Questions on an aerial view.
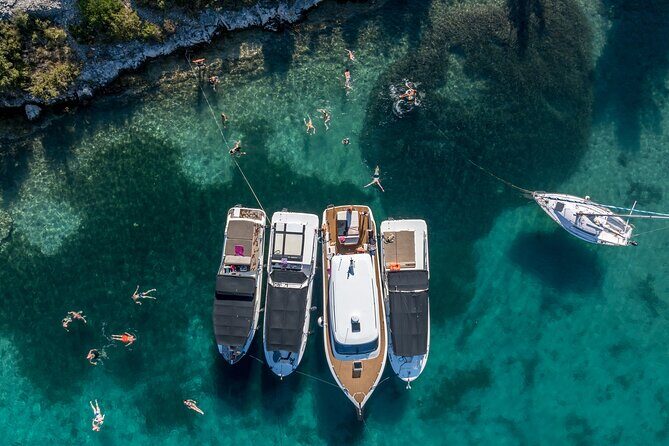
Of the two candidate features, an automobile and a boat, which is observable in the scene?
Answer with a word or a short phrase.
boat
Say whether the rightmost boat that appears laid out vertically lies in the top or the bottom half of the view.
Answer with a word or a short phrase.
bottom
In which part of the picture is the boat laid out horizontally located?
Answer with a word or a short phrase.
right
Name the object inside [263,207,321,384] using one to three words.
boat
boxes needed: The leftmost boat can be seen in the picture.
[214,204,267,366]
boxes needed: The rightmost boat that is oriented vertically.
[381,215,429,392]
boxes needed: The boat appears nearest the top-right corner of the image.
[535,195,669,247]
